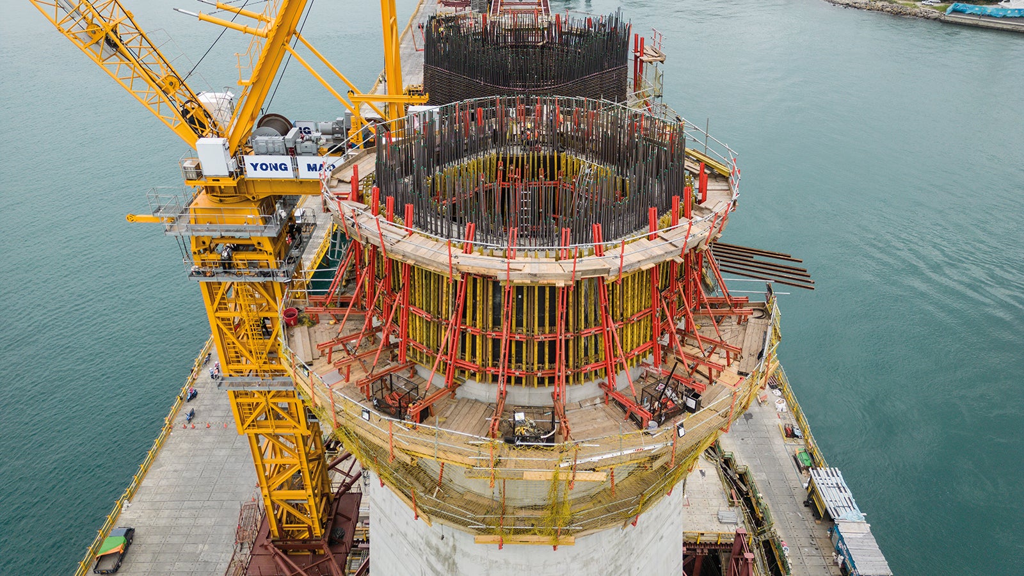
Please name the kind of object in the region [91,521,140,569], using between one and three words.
truck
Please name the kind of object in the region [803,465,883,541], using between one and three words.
shed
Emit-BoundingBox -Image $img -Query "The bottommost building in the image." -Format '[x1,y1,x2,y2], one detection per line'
[822,522,905,576]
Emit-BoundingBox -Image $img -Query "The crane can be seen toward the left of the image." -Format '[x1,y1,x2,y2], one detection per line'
[26,0,430,538]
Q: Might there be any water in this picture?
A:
Yes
